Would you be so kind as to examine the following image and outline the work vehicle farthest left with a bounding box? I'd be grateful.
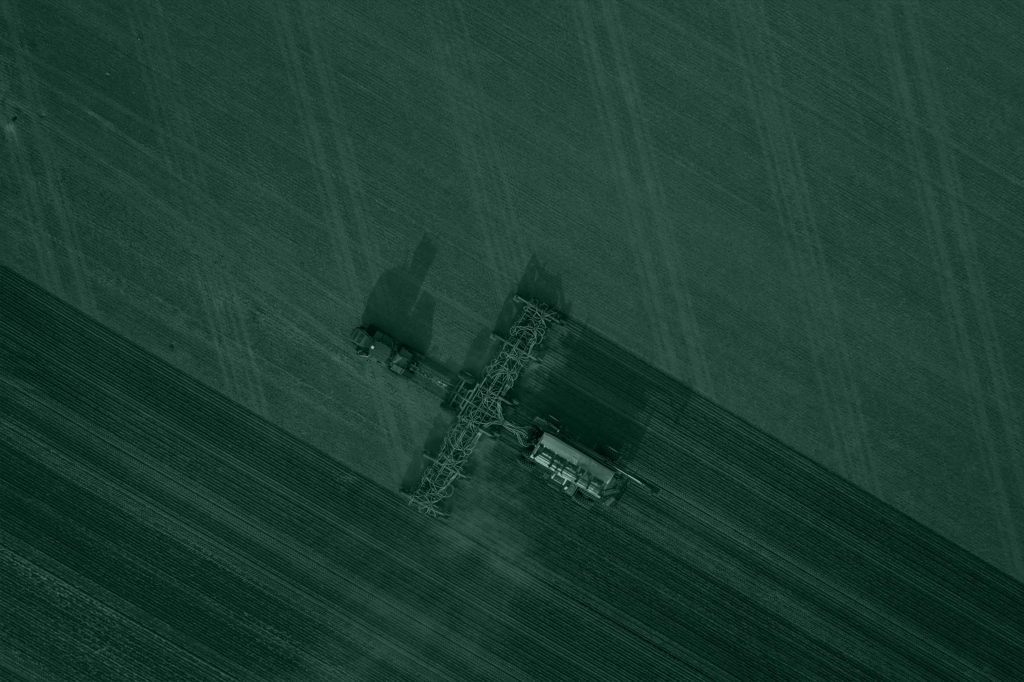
[352,324,427,383]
